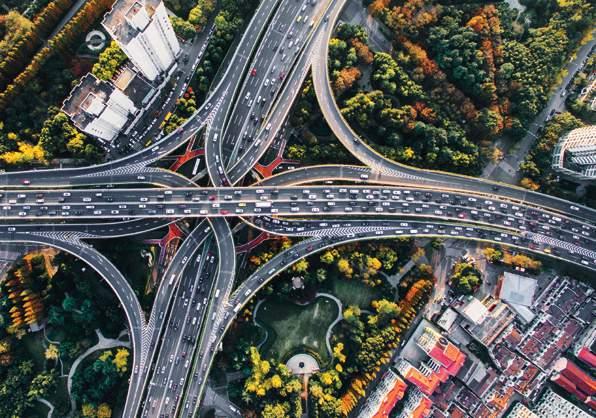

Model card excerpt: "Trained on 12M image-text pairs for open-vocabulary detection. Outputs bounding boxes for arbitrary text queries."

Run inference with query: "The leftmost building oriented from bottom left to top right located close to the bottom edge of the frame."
[361,368,409,418]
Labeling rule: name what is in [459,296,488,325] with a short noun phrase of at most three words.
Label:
building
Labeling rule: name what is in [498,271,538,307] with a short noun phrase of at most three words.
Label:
building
